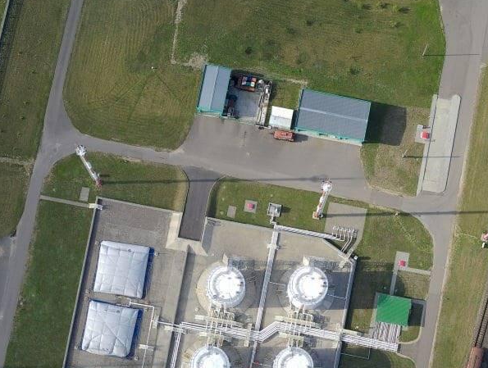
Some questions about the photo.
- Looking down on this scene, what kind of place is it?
industrial area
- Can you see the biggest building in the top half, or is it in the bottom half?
top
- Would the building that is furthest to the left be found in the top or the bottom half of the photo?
top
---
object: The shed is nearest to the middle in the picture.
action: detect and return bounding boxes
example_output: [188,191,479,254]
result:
[270,107,293,130]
